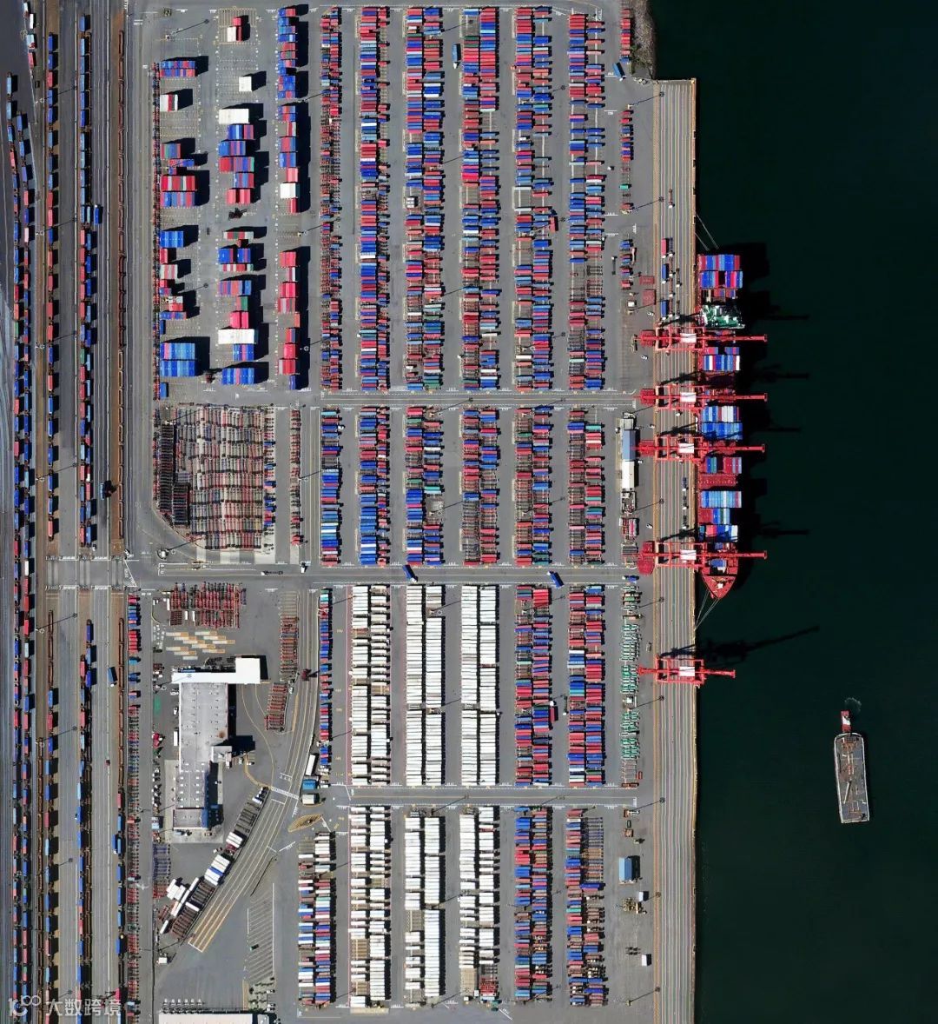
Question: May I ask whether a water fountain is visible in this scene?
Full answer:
No, the frame has no water fountain in it.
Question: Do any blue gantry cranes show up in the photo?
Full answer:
No, I can see no blue gantry crane in this picture.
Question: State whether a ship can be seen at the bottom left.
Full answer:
No, no ship is visible at the bottom left.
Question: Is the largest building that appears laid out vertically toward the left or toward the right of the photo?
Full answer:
The largest building that appears laid out vertically is on the left side of the image.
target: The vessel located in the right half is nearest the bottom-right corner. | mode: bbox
[835,733,869,823]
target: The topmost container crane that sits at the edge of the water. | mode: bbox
[639,322,768,355]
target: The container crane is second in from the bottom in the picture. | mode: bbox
[639,539,768,571]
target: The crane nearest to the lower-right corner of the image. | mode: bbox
[639,654,739,687]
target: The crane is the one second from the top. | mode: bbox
[639,381,768,414]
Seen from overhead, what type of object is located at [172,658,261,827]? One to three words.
building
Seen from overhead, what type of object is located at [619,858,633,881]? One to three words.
shed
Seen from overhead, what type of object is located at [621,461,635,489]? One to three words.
building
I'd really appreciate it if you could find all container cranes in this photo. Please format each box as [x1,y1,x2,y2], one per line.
[639,432,766,465]
[639,322,768,355]
[639,654,739,687]
[639,381,768,414]
[639,539,768,571]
